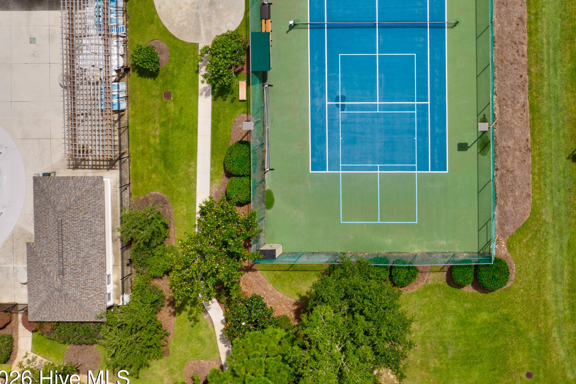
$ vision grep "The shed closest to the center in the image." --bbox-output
[256,244,282,260]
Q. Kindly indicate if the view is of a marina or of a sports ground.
sports ground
